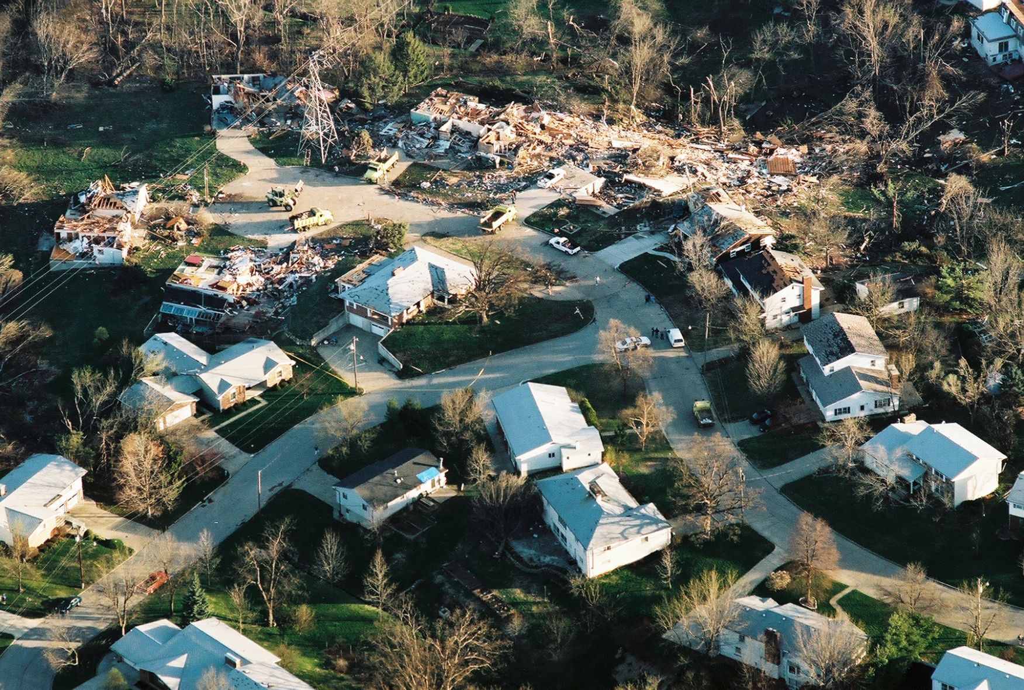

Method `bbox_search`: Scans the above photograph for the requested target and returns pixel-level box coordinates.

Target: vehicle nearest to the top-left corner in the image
[260,179,312,210]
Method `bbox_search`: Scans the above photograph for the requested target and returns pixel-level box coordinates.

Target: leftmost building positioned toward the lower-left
[0,452,88,575]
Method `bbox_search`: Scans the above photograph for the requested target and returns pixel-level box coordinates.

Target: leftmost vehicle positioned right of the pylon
[361,150,400,184]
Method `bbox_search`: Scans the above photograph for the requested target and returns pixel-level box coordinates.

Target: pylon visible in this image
[293,41,341,164]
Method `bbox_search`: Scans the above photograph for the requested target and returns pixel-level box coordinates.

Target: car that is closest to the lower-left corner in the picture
[44,593,85,615]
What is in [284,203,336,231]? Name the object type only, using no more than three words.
truck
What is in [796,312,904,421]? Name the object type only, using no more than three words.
house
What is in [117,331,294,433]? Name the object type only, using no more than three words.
house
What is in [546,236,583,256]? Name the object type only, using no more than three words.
vehicle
